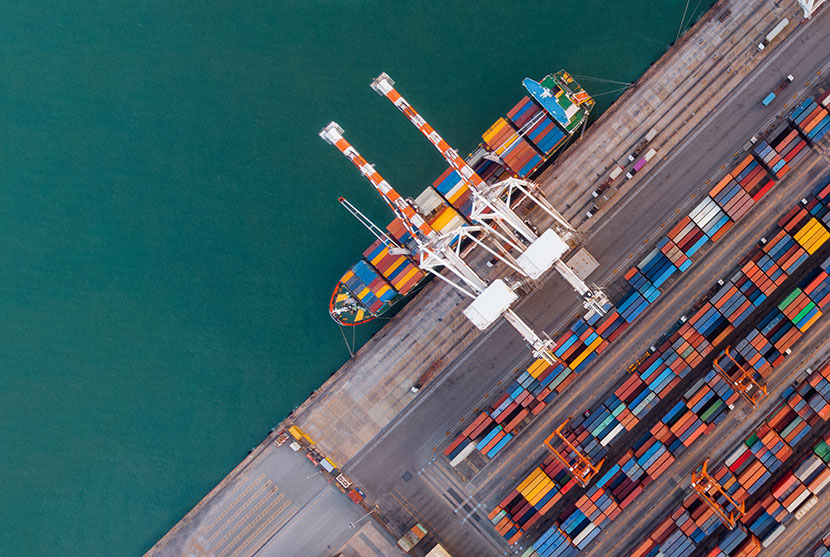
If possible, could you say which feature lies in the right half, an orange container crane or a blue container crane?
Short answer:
orange container crane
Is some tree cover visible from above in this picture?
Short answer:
No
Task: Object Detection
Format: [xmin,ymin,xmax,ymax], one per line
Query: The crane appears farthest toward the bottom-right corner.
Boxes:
[692,454,750,528]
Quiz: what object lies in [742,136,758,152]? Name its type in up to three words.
vehicle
